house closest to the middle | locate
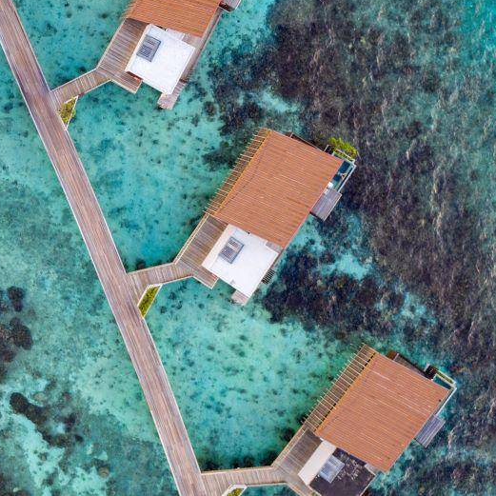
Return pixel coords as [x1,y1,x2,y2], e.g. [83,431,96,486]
[172,127,354,304]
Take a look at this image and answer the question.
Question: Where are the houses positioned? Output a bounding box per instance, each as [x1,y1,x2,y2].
[96,0,241,112]
[265,342,457,496]
[172,127,354,304]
